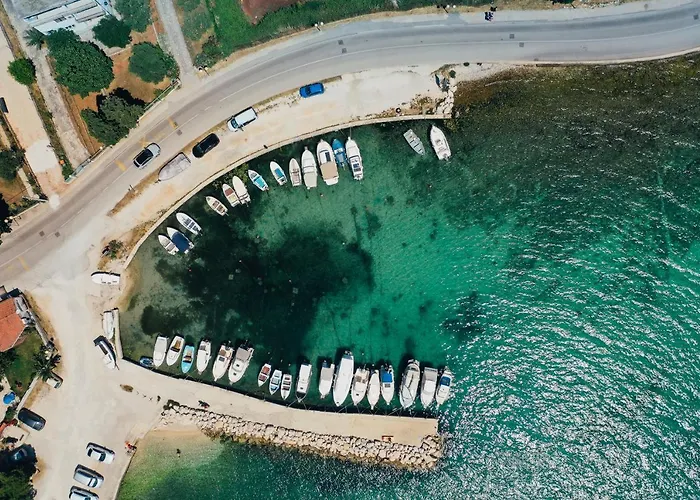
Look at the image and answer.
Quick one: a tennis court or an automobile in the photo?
automobile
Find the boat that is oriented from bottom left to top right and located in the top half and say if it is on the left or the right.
left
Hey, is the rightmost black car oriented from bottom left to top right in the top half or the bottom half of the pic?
top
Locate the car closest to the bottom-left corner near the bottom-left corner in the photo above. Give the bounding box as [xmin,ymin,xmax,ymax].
[12,444,34,464]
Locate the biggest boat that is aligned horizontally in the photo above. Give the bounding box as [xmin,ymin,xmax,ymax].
[91,273,123,285]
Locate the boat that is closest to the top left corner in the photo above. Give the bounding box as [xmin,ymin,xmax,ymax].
[157,151,193,185]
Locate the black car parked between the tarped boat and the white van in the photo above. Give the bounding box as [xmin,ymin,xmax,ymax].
[192,132,221,158]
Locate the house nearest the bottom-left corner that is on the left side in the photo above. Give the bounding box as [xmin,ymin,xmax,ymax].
[0,298,33,350]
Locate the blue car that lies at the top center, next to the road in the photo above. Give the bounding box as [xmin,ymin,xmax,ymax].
[299,81,326,99]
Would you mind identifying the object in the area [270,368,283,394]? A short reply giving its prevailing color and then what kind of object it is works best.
white boat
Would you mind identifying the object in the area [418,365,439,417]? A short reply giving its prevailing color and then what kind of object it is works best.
white boat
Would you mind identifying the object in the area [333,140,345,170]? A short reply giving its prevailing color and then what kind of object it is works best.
blue boat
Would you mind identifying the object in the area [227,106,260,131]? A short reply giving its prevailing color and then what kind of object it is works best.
white vehicle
